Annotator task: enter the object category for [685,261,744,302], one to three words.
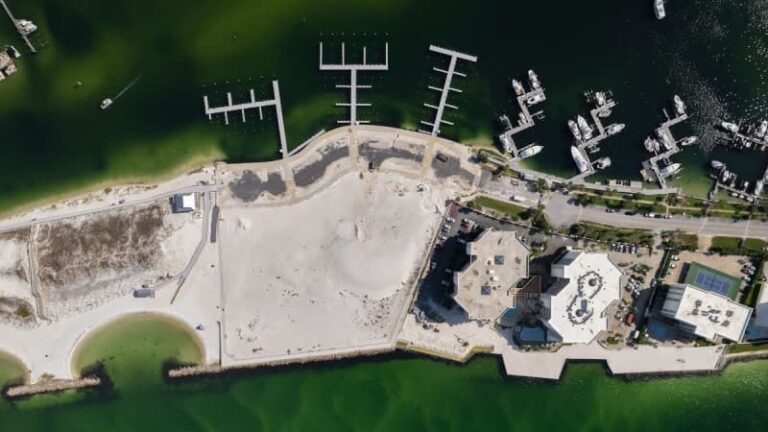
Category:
tennis court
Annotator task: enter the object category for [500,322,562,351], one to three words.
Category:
swimming pool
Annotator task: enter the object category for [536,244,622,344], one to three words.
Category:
building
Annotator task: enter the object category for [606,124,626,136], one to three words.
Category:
boat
